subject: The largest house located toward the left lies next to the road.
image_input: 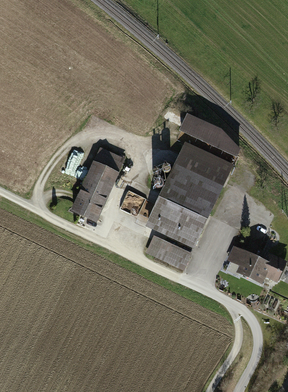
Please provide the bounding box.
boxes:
[68,160,118,222]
